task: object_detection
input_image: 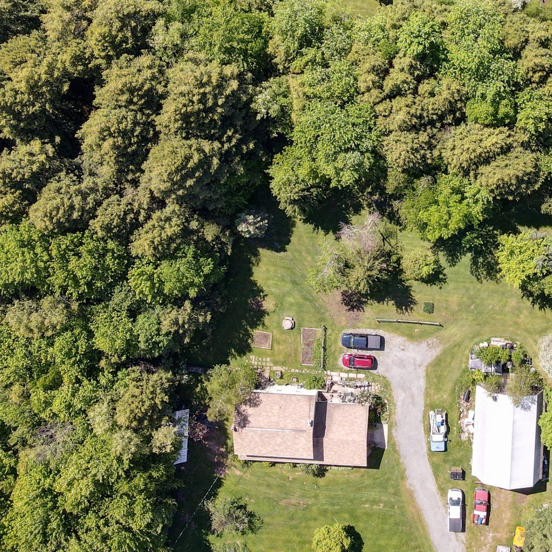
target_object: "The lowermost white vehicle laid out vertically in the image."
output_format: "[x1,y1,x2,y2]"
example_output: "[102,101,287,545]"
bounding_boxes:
[447,486,465,534]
